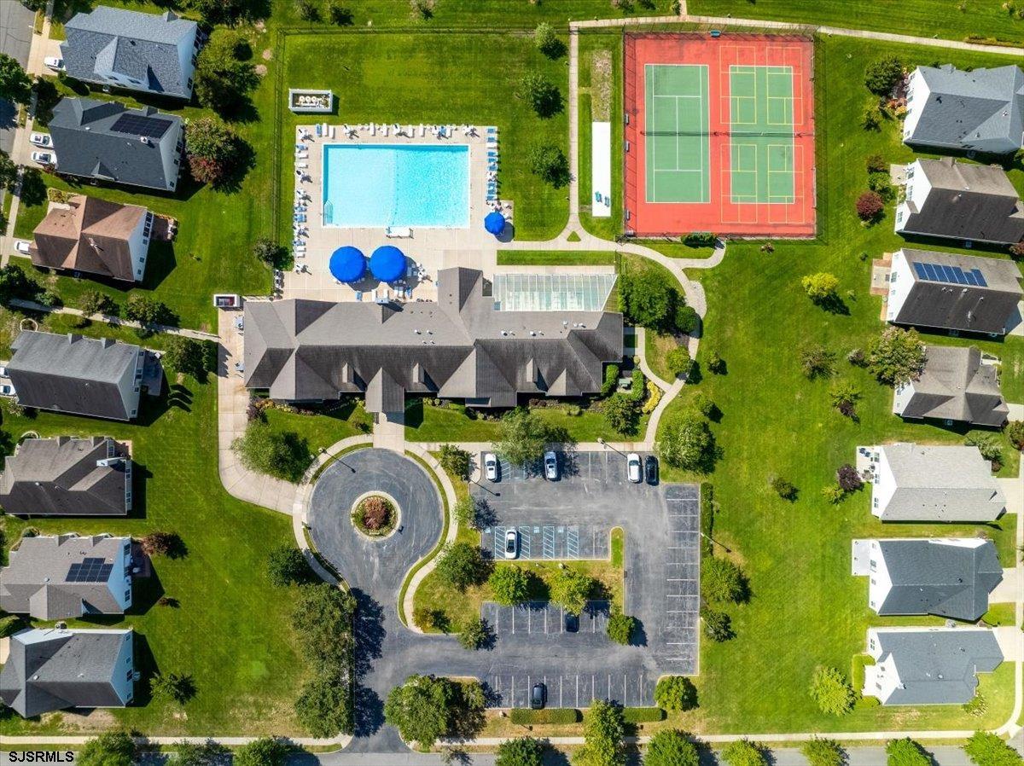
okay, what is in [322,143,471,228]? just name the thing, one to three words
swimming pool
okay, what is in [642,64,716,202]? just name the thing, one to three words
tennis court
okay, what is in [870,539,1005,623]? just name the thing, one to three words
house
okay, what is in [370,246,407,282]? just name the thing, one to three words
umbrella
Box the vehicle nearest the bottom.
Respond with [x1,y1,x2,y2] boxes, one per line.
[532,681,545,710]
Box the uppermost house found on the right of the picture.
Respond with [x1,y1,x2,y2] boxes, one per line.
[901,63,1024,156]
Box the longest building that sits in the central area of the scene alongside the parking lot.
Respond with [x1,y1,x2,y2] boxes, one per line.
[245,266,623,413]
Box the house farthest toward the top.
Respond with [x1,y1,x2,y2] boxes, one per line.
[56,5,203,104]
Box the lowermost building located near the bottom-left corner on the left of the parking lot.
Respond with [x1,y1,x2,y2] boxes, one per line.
[0,628,134,717]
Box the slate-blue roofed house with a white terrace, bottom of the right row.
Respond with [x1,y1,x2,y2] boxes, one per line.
[869,628,1003,705]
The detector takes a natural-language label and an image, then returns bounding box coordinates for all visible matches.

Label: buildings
[0,331,148,421]
[31,192,155,281]
[892,347,1015,426]
[889,155,1024,245]
[901,63,1024,156]
[870,539,1005,623]
[869,628,1003,705]
[0,533,133,622]
[872,442,1010,521]
[0,436,135,514]
[44,93,189,193]
[245,266,623,413]
[886,248,1024,337]
[0,628,134,717]
[56,5,203,104]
